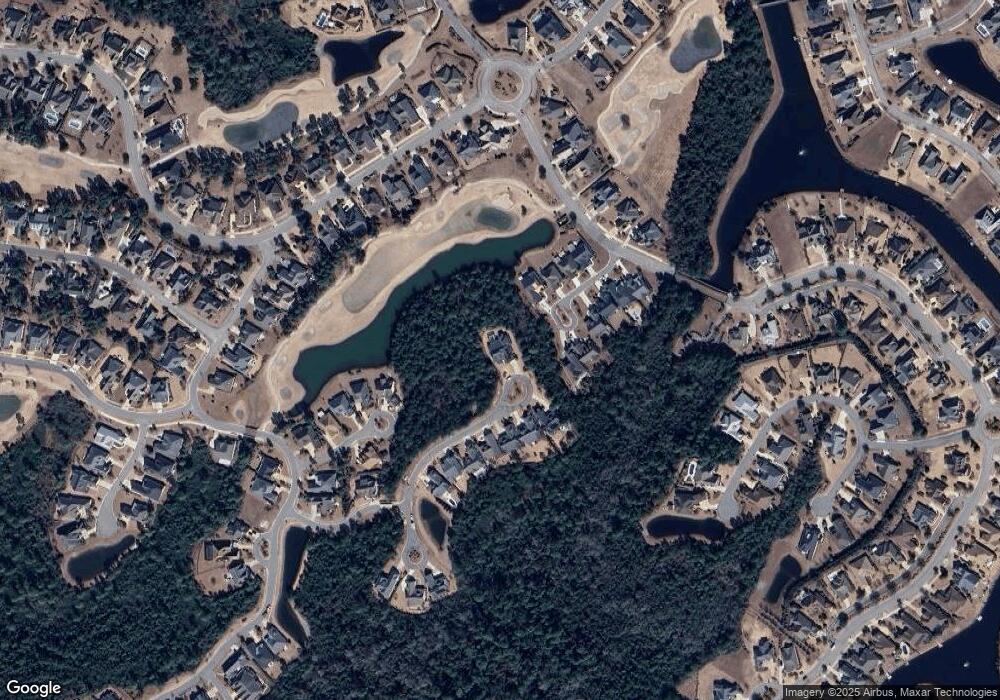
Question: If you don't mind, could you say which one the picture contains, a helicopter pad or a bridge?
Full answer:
Looking from above, you can make out a bridge.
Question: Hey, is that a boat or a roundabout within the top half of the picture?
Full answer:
What appears within the top half of the picture is a roundabout.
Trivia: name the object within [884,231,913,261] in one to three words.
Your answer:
house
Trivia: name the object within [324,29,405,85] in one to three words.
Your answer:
pond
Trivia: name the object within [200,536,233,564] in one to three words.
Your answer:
house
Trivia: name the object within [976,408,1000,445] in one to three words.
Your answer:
roundabout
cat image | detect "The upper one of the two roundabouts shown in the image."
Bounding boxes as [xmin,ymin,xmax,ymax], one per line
[479,56,535,112]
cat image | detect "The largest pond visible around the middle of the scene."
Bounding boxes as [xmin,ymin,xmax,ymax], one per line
[288,219,555,417]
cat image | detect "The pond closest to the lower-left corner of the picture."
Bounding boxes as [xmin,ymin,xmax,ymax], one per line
[67,535,135,582]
